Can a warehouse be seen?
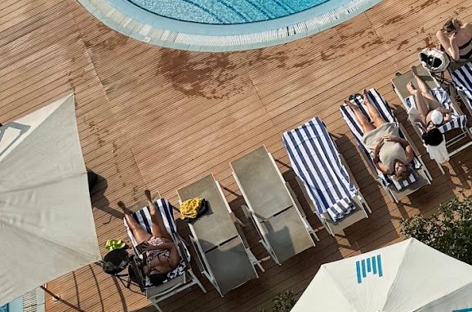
No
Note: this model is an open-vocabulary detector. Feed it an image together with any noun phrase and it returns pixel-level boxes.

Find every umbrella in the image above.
[0,95,99,301]
[292,238,472,312]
